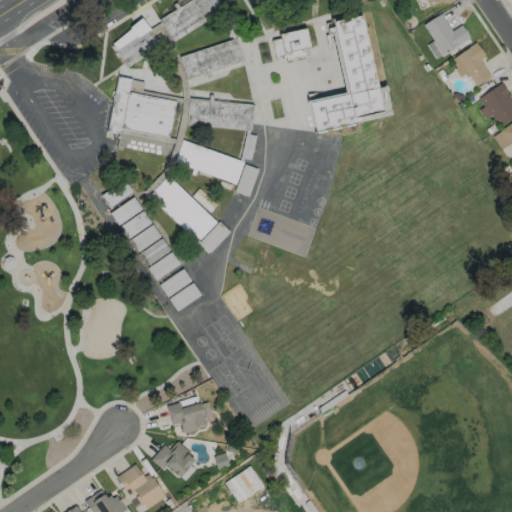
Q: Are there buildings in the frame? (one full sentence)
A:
Yes, looking at the shot, I can spot a building.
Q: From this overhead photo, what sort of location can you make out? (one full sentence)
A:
This image shows a sports ground.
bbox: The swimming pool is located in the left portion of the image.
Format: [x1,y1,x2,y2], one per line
[192,442,210,464]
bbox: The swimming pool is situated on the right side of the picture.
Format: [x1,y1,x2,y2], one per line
[454,80,473,94]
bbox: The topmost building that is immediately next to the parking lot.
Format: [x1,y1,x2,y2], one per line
[160,0,217,40]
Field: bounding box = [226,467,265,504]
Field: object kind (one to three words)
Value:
barn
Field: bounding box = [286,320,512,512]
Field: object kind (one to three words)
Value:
baseball field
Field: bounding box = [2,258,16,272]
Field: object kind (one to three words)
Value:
gazebo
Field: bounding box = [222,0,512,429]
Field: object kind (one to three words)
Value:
sports field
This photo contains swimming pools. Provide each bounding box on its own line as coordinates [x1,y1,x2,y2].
[454,80,473,94]
[192,442,210,464]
